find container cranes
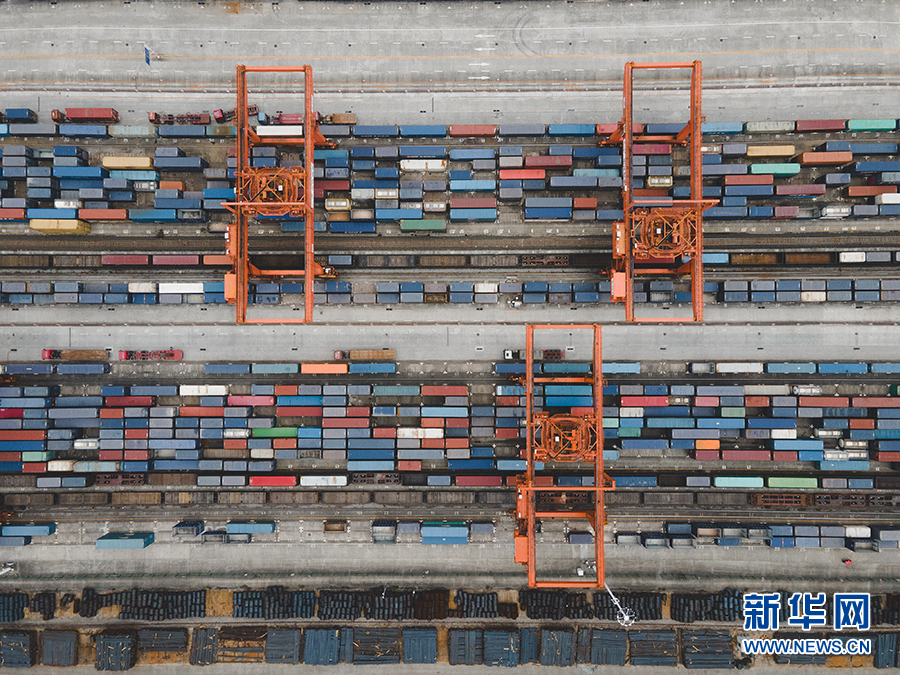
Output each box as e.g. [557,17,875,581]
[595,62,720,322]
[506,325,613,588]
[215,65,345,323]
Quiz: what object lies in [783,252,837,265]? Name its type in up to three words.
rail car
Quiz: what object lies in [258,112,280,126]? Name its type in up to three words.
vehicle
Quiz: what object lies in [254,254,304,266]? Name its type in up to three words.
rail car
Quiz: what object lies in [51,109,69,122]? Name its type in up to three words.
vehicle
